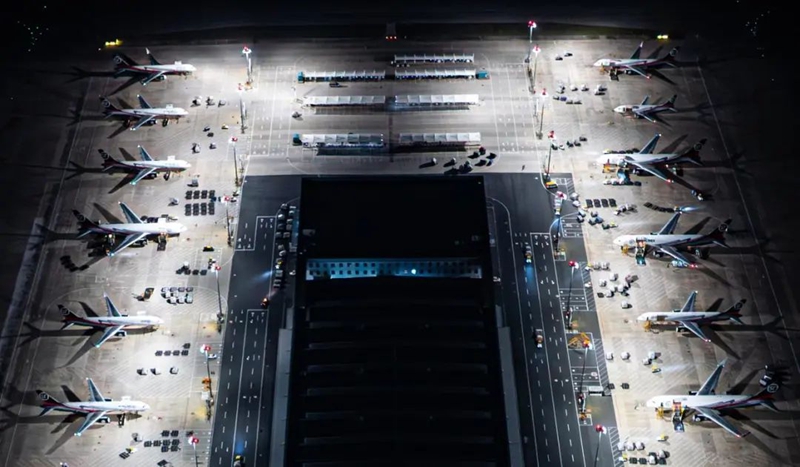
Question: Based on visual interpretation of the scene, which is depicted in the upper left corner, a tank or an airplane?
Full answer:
There is an airplane in the upper left corner.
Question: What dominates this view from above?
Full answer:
What you mostly see from above here is paved ground.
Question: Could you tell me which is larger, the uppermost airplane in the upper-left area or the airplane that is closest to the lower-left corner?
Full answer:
The uppermost airplane in the upper-left area is smaller than the airplane that is closest to the lower-left corner.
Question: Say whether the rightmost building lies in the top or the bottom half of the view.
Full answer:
The bottom half of the photo is where the rightmost building is.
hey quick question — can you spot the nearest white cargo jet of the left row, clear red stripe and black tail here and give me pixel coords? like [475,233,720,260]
[34,378,149,436]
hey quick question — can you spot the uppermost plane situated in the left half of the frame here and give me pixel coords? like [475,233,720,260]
[112,48,195,84]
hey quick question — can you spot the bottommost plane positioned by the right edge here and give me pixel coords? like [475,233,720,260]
[647,358,788,440]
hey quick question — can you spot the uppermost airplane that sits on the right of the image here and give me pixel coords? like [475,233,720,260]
[594,44,680,81]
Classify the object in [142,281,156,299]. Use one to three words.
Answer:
work vehicle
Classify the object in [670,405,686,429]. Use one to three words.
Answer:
work vehicle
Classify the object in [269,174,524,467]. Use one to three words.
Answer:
building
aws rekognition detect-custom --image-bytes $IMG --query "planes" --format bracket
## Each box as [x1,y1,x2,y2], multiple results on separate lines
[55,295,163,346]
[614,212,735,269]
[647,358,788,440]
[614,96,680,122]
[34,378,149,436]
[112,48,195,84]
[594,44,680,81]
[597,134,710,184]
[99,94,188,130]
[637,290,748,342]
[72,201,187,254]
[96,144,191,184]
